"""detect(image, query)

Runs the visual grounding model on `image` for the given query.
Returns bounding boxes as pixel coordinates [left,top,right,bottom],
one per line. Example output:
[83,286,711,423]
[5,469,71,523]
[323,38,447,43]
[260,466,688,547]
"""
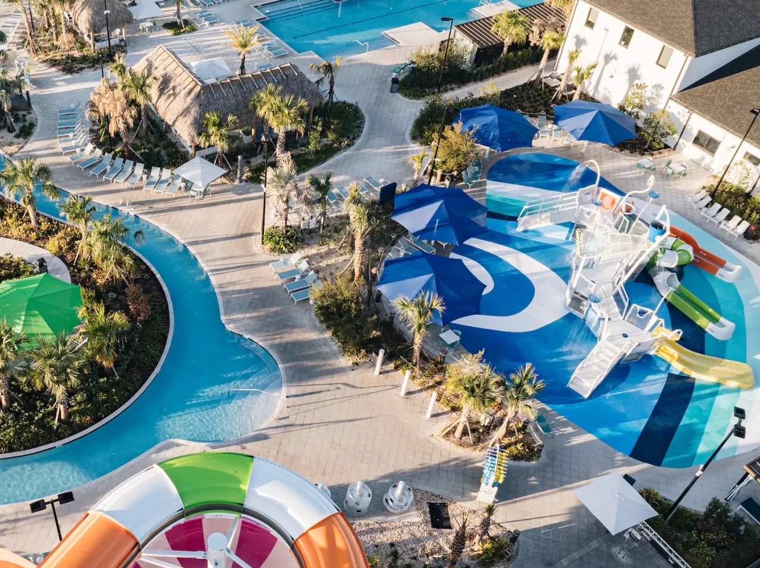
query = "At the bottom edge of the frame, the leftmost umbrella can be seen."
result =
[570,471,657,547]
